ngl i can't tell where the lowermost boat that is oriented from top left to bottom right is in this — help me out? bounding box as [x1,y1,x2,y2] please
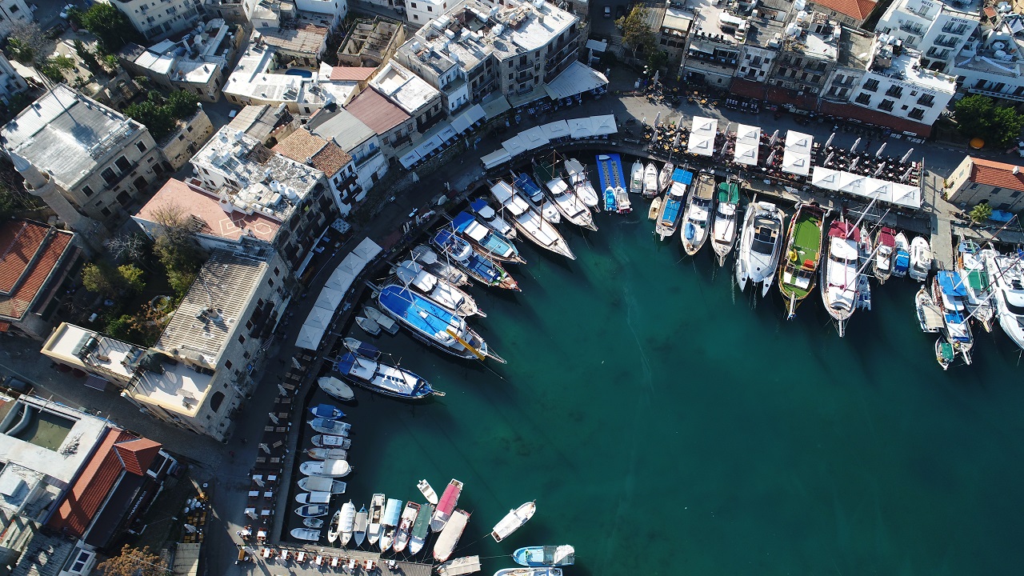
[417,478,437,503]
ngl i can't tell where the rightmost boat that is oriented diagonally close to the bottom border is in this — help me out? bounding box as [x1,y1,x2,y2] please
[490,501,537,548]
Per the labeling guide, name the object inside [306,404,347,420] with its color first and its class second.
blue boat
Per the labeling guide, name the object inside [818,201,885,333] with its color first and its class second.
white boat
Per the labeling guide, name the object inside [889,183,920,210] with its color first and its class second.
white umbrella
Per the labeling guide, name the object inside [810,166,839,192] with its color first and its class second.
white umbrella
